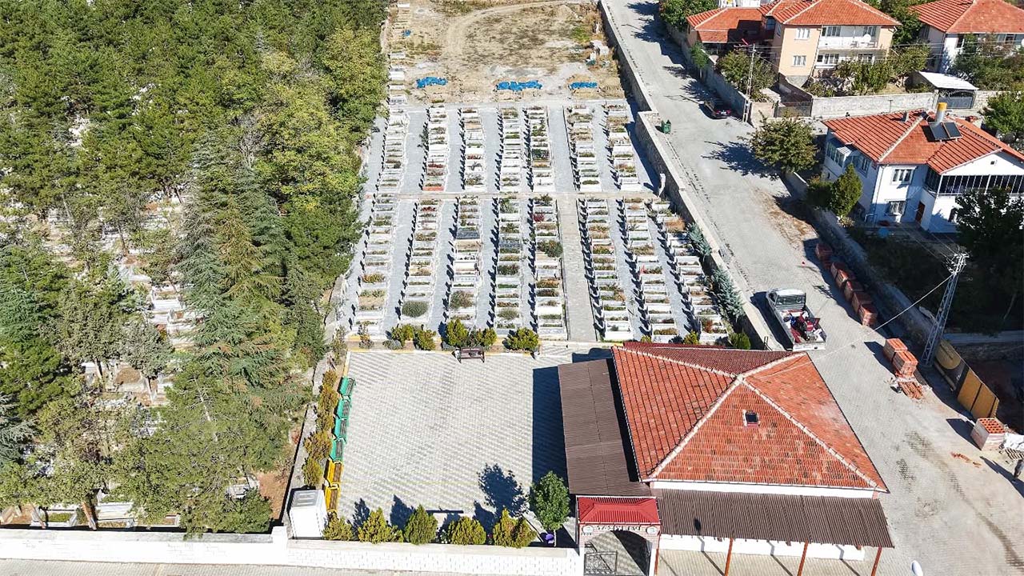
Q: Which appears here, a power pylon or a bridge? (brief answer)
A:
power pylon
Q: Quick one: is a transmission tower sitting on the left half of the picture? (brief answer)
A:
No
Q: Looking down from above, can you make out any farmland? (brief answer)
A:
No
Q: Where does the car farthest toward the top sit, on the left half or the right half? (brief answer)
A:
right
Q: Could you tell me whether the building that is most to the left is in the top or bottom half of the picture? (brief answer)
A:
bottom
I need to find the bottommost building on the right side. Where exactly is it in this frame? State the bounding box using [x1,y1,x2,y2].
[557,344,893,576]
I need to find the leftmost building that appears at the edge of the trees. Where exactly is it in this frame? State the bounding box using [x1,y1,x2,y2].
[290,489,329,538]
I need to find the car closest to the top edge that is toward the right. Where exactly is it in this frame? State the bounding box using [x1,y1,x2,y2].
[699,93,733,116]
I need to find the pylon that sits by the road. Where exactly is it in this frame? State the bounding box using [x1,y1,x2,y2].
[915,252,978,374]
